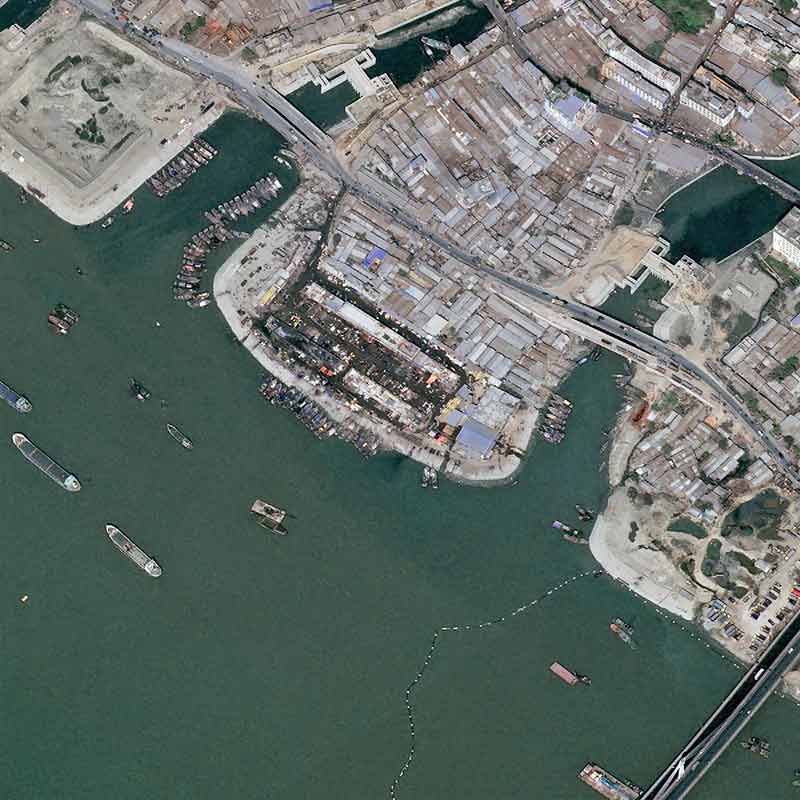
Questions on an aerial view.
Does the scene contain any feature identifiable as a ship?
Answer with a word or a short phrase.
Yes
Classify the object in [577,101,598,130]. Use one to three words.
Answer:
house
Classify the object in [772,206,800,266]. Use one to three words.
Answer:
building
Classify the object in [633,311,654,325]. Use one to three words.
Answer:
boat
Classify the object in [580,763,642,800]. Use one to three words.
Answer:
ship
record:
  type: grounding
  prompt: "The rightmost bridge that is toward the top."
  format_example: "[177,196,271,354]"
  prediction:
[720,148,800,205]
